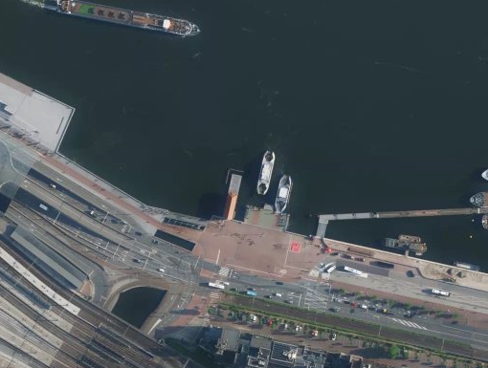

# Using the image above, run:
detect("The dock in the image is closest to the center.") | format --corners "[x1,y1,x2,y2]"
[226,168,244,220]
